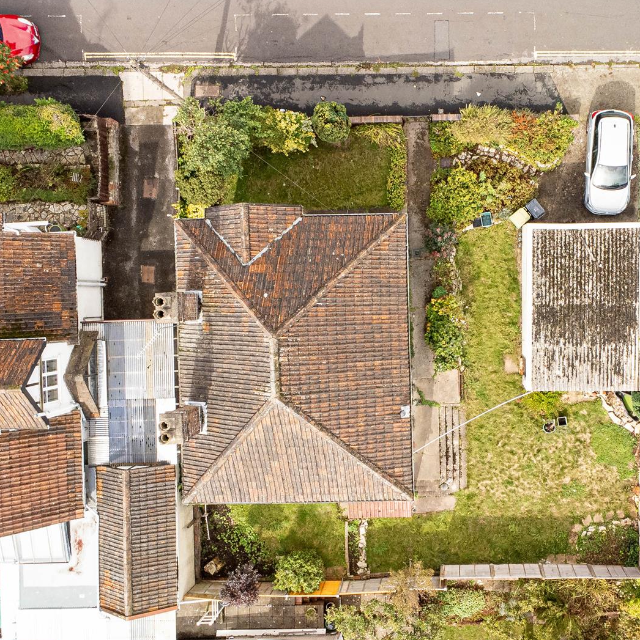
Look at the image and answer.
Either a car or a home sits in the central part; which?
home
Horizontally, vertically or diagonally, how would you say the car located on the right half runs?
vertically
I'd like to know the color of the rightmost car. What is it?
white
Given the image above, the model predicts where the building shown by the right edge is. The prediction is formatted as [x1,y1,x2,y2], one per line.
[523,221,640,392]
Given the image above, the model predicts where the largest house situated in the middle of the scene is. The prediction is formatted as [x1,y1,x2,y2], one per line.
[150,204,416,518]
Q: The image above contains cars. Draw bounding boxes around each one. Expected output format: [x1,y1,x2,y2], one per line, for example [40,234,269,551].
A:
[583,110,638,216]
[0,16,44,67]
